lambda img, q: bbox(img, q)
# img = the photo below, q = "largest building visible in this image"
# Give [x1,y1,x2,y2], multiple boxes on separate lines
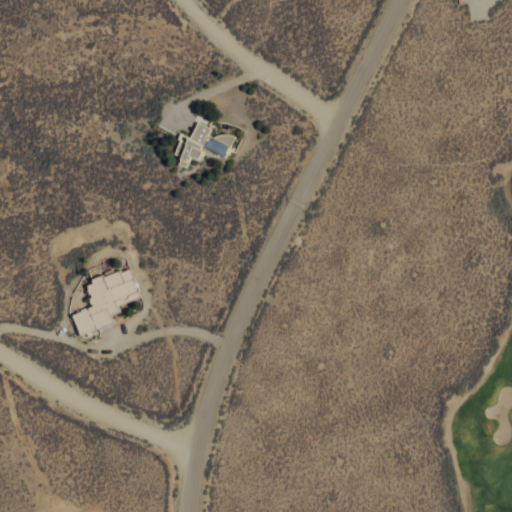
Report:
[72,269,140,340]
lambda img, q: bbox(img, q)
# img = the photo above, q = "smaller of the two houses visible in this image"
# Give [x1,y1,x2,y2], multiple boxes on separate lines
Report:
[175,116,237,168]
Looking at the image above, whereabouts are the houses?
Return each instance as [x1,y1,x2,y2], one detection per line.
[72,269,140,340]
[175,116,237,168]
